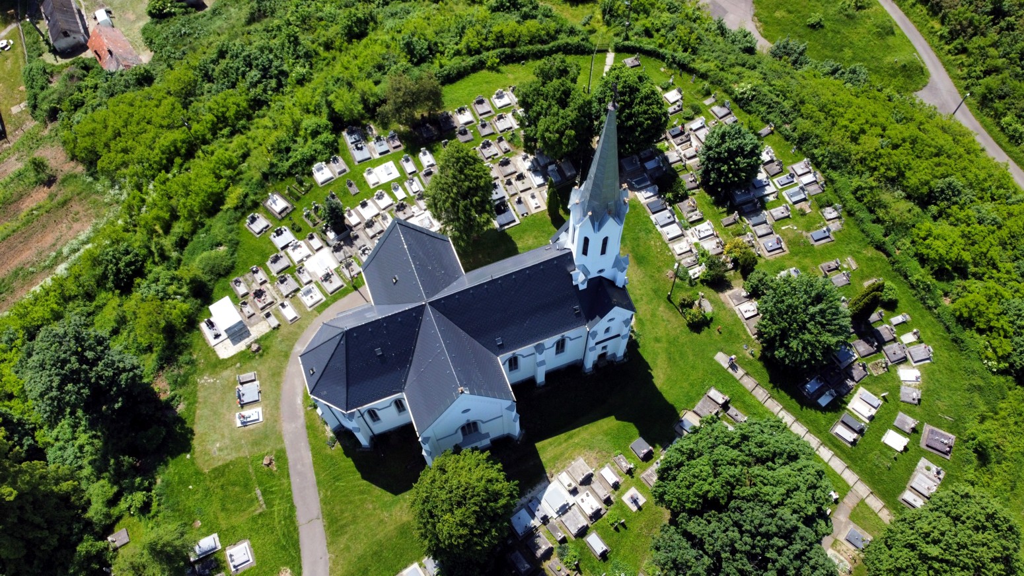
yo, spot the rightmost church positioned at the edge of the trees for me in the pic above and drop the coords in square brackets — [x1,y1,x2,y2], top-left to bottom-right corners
[299,74,640,474]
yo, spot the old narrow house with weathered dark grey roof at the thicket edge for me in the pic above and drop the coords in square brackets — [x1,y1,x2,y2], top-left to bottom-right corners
[38,0,91,58]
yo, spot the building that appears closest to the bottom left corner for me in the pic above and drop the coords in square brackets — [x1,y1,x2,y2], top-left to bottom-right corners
[209,296,249,339]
